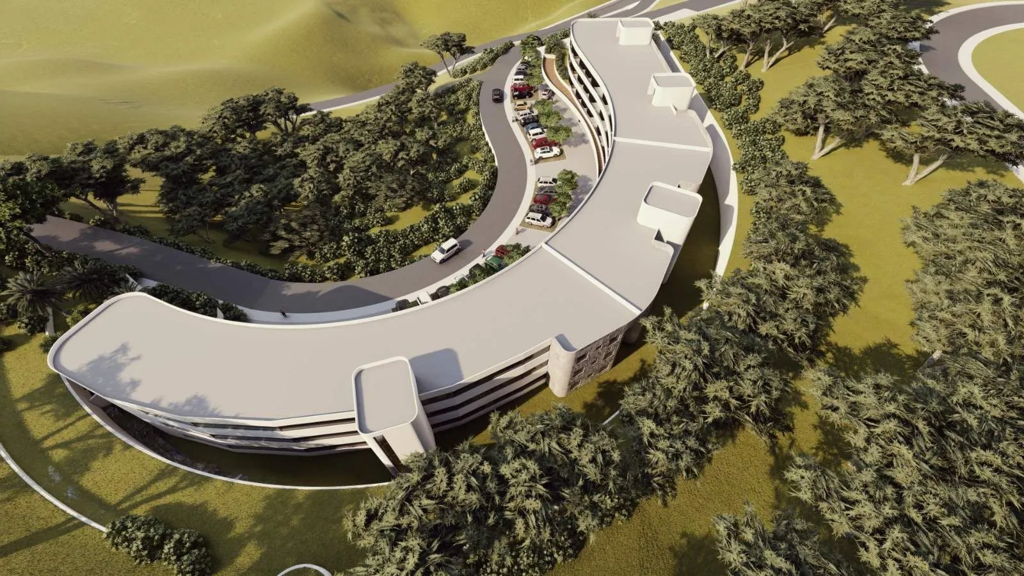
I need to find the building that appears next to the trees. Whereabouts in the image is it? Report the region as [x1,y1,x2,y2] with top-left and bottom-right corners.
[48,17,713,479]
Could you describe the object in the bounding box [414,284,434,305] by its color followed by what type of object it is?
white car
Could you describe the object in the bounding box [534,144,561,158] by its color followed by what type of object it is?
white car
